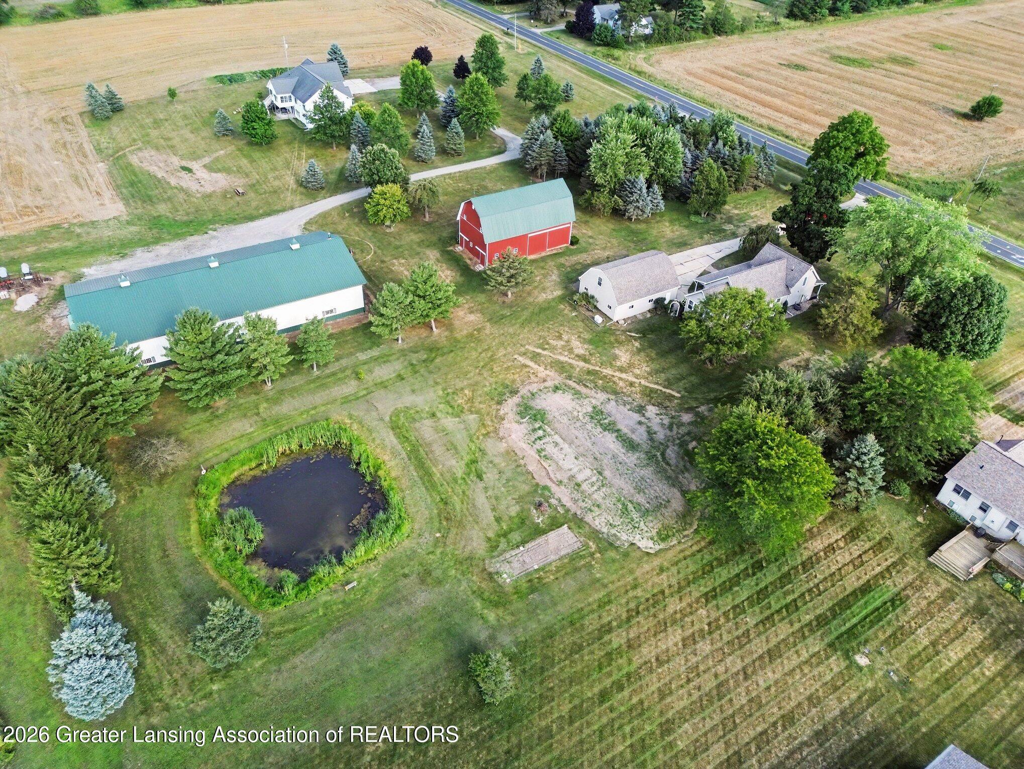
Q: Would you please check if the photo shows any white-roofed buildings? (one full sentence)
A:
Yes, the frame does contain a white-roofed building.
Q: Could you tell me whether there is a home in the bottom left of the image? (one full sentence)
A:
No, there is no home in the bottom left of the image.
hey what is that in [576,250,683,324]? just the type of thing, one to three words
building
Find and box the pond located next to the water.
[217,450,387,585]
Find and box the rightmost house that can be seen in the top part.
[684,241,829,316]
